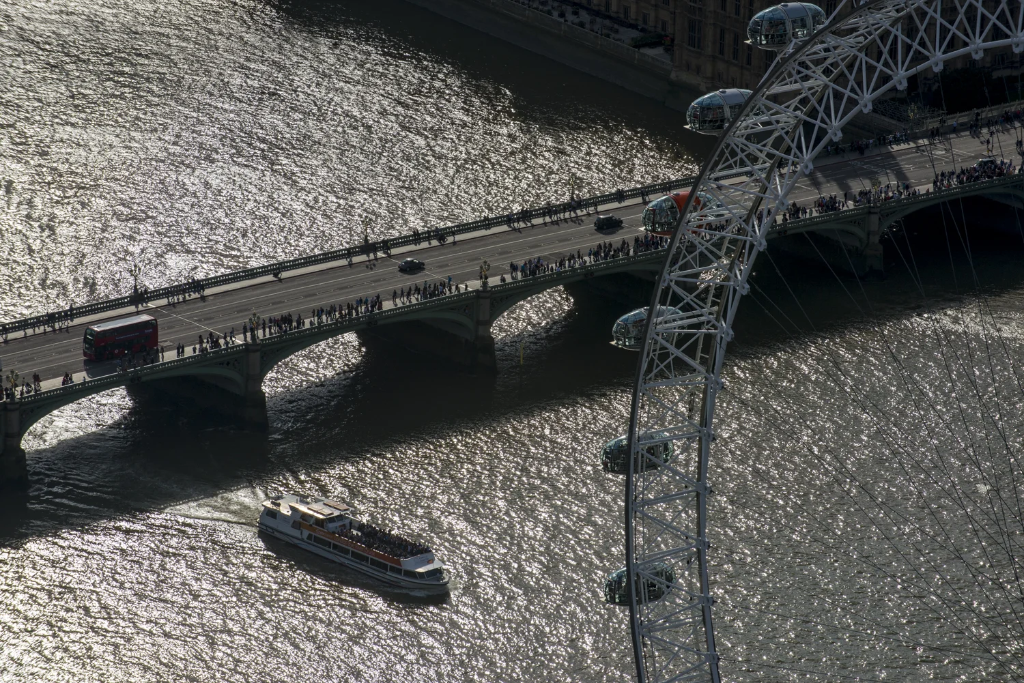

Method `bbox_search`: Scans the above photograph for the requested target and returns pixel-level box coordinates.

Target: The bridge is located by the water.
[0,129,1024,494]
